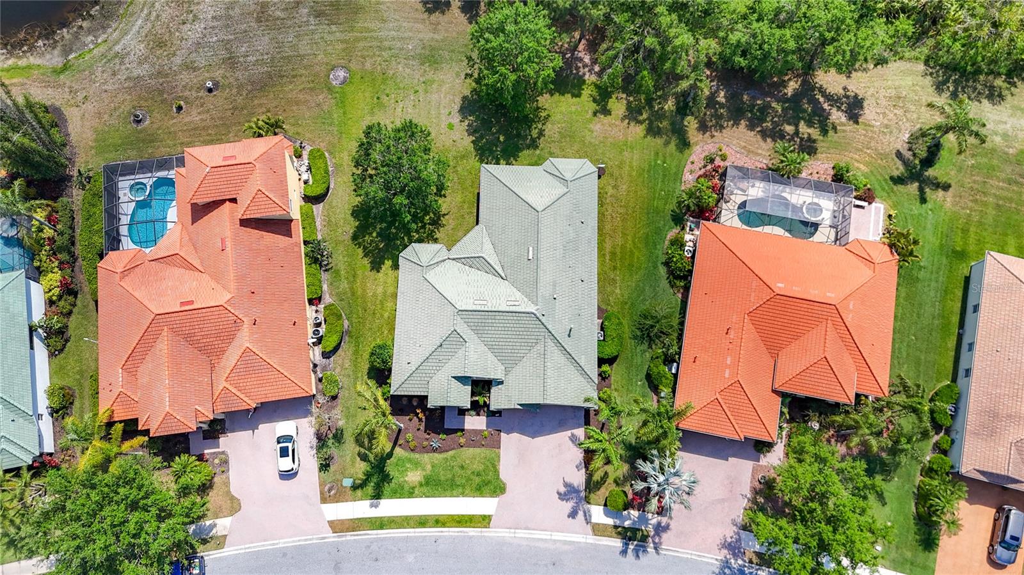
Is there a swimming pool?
Yes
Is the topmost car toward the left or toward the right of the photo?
left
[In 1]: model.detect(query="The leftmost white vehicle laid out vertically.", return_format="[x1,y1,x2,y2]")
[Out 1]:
[272,420,300,476]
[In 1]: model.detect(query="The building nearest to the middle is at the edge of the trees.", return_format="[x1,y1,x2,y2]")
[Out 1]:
[391,157,599,411]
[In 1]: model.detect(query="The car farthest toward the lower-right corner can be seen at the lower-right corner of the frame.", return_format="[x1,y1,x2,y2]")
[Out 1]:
[987,503,1024,567]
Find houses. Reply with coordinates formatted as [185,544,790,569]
[96,134,320,439]
[947,250,1024,496]
[677,220,901,443]
[0,268,54,469]
[391,157,599,411]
